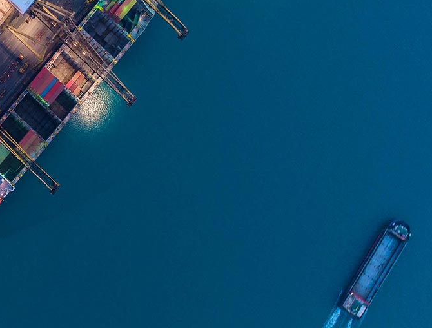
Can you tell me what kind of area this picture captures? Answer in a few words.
port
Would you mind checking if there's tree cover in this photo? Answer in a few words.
No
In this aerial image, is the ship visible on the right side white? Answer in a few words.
No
